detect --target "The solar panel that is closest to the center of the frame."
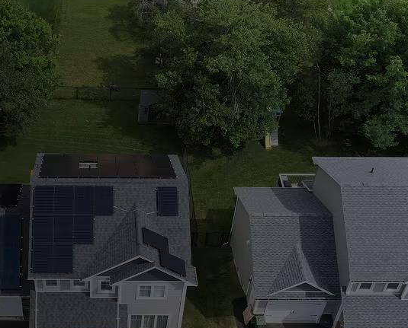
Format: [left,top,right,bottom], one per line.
[157,186,179,214]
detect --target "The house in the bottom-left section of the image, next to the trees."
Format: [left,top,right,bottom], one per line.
[0,151,198,328]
